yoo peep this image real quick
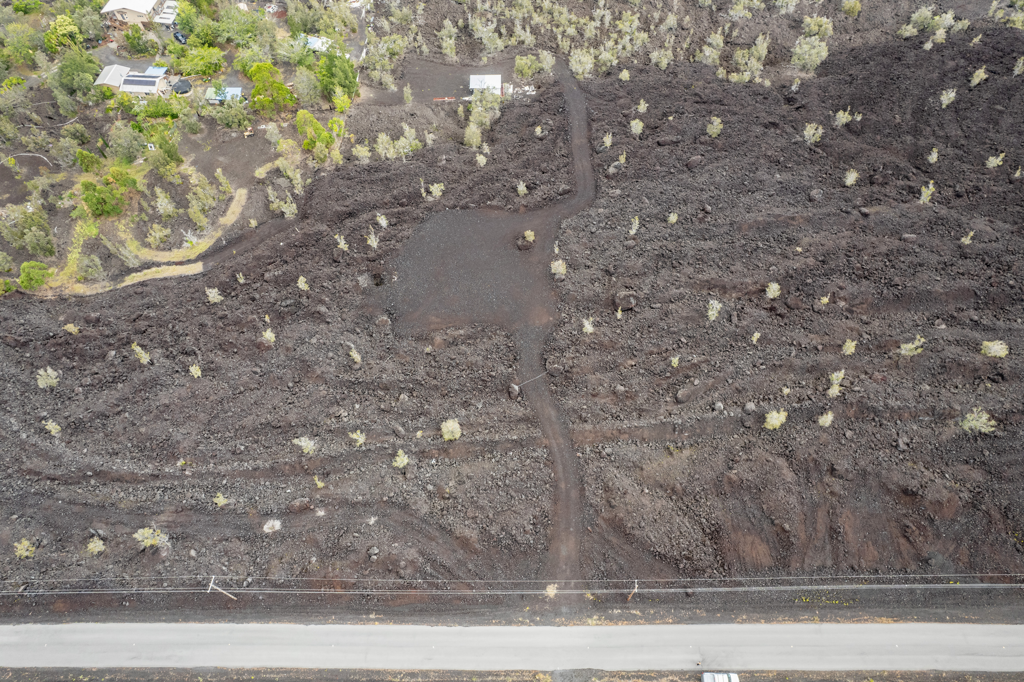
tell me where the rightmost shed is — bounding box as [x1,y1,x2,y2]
[470,75,501,97]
